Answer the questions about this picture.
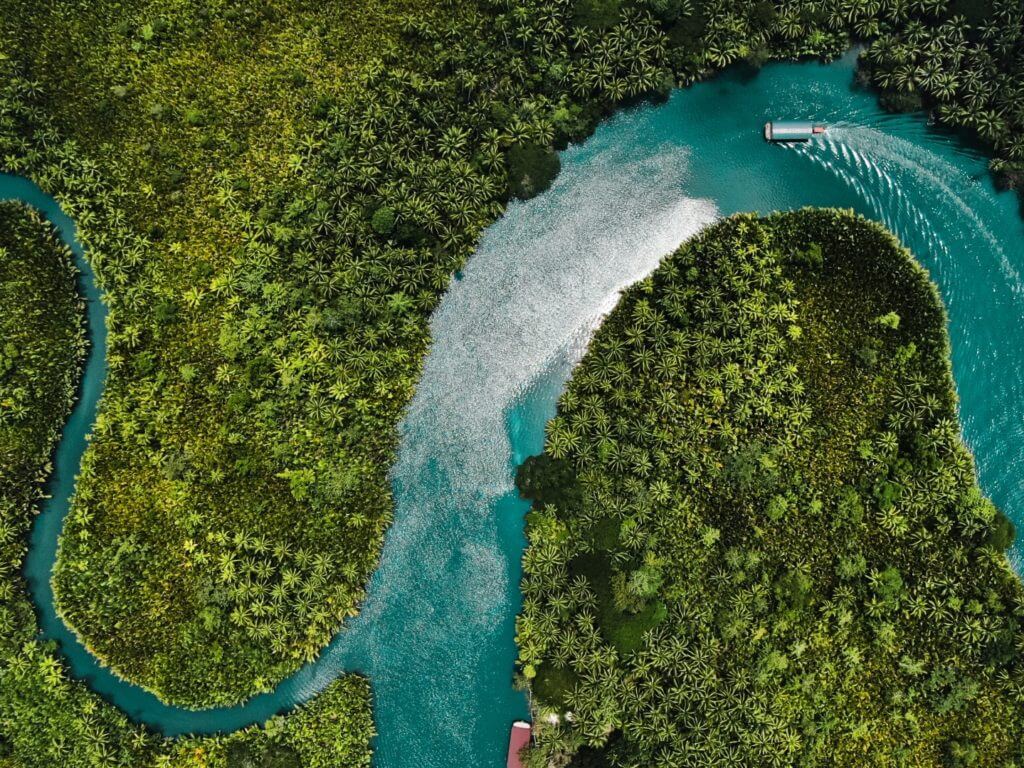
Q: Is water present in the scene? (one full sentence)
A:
Yes, there is water in the image.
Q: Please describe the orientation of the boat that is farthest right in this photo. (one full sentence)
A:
From this overhead view, the boat that is farthest right appears to run from left to right.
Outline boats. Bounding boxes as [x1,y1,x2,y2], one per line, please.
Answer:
[764,121,826,142]
[505,719,529,768]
